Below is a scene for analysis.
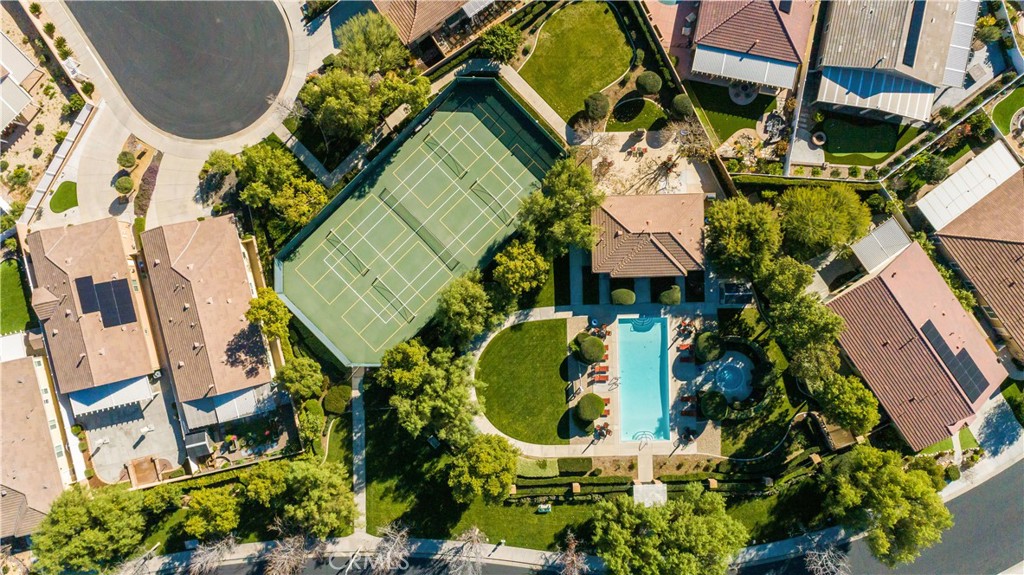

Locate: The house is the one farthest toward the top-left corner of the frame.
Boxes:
[0,30,50,136]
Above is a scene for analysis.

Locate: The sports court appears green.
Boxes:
[283,85,565,363]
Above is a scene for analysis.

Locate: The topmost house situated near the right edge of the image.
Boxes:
[810,0,980,126]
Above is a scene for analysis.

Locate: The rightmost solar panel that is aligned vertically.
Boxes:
[903,0,925,64]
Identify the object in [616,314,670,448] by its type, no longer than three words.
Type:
swimming pool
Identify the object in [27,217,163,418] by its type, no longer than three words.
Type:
house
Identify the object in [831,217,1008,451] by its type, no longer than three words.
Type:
house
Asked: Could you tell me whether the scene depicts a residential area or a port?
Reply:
residential area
